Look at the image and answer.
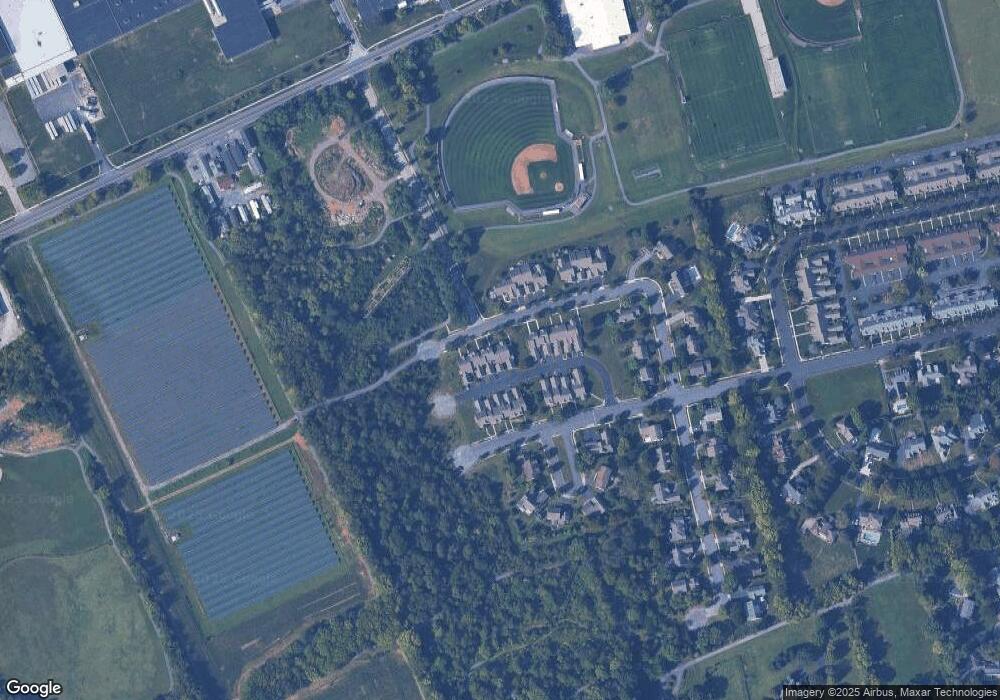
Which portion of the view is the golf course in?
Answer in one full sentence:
The golf course is in the bottom left part of the image.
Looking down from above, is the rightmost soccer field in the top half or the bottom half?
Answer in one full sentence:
The rightmost soccer field is in the top half of the image.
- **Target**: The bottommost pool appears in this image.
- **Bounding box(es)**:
[857,529,881,545]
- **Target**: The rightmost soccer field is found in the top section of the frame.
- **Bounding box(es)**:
[857,0,957,137]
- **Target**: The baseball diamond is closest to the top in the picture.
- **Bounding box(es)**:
[776,0,861,45]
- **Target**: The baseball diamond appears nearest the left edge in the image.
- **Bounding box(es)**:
[438,74,579,212]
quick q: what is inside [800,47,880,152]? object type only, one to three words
soccer field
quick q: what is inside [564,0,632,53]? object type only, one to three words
building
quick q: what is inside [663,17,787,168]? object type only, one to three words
soccer field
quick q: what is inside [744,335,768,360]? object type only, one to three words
house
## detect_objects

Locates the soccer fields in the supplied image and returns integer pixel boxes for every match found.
[663,17,787,168]
[857,0,957,137]
[800,47,880,152]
